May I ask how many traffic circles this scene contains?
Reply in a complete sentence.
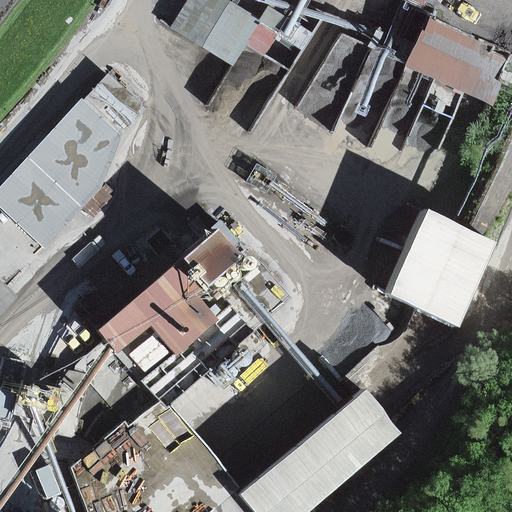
I count no traffic circles.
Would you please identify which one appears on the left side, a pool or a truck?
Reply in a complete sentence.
Visible on the left side is a truck.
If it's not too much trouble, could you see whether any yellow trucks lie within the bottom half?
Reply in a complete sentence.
Yes, a yellow truck shows up within the bottom half.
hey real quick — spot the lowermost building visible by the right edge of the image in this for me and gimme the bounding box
[388,209,496,326]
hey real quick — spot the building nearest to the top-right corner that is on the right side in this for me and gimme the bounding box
[404,16,508,106]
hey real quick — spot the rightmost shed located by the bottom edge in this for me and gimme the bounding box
[240,387,400,512]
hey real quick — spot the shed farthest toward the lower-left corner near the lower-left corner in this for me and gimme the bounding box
[36,464,62,499]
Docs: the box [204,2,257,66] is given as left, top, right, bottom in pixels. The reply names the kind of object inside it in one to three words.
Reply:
shed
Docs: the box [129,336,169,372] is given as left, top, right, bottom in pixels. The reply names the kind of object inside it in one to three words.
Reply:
house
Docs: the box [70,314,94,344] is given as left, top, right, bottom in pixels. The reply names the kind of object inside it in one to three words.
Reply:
work vehicle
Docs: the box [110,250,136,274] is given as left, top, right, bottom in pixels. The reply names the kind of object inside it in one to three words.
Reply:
truck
